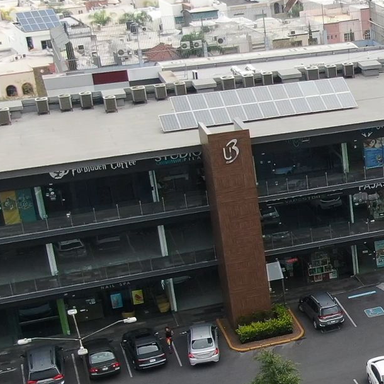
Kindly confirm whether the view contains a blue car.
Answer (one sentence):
No, I find no blue car anywhere in the image.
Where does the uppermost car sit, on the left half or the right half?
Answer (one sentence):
It is on the right.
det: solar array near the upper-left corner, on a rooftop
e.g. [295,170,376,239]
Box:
[0,0,52,32]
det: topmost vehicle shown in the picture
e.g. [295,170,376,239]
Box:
[295,288,343,330]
